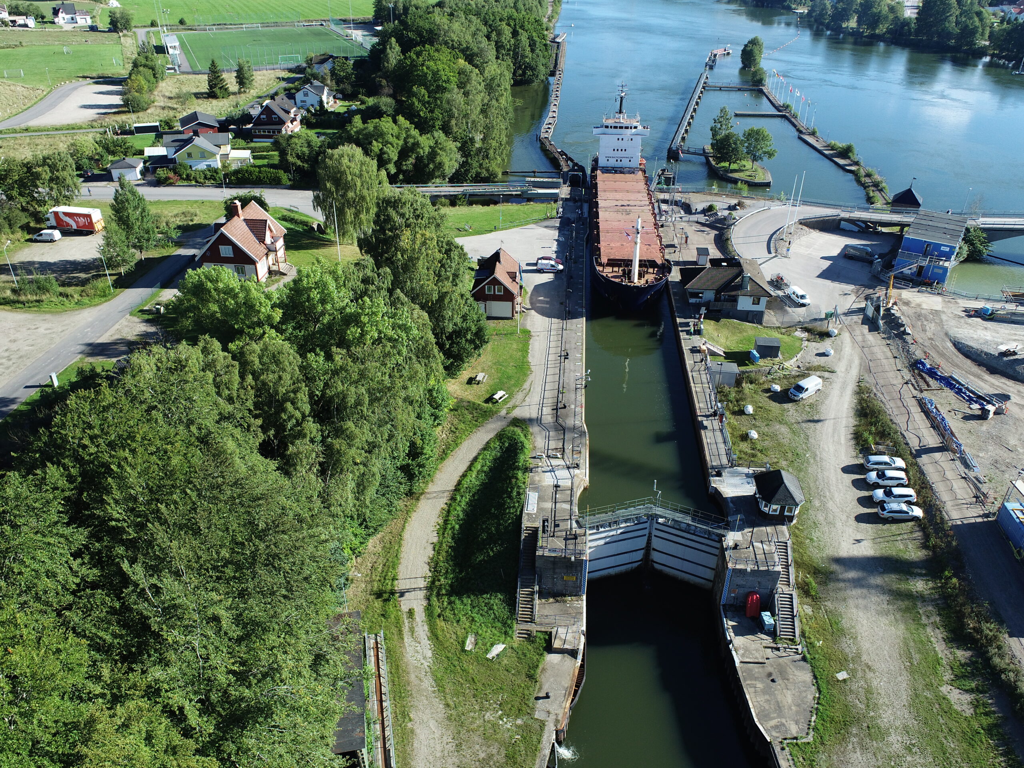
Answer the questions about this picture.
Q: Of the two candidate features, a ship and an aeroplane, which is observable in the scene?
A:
ship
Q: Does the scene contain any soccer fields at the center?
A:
No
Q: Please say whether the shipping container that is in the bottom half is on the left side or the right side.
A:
right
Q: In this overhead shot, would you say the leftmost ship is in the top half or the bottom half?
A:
top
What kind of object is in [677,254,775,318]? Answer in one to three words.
building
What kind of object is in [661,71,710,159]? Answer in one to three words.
pier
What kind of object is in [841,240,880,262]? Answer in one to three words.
vehicle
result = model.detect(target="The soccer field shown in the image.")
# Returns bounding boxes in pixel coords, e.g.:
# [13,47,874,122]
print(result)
[179,26,370,72]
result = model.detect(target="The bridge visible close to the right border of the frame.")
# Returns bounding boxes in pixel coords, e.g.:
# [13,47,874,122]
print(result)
[731,201,1024,256]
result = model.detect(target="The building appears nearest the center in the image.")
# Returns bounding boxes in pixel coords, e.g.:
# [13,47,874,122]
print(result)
[475,242,532,320]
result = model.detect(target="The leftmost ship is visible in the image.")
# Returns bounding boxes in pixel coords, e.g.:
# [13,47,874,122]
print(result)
[585,82,675,317]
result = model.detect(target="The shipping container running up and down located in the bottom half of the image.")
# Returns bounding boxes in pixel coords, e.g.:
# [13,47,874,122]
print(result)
[996,499,1024,558]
